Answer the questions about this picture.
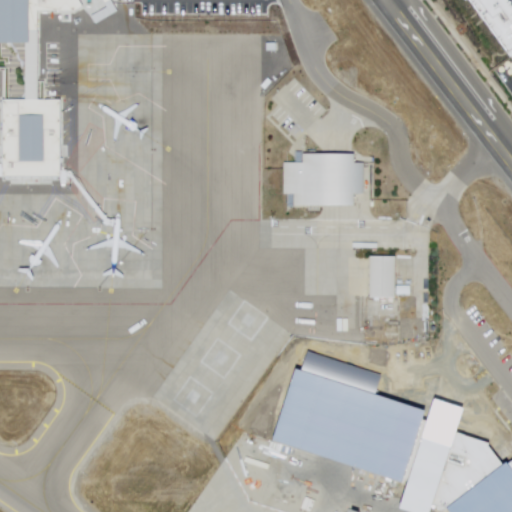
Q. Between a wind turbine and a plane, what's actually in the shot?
plane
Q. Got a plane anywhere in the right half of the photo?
No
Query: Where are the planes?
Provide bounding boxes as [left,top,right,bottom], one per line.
[18,222,61,280]
[99,104,150,141]
[86,214,143,277]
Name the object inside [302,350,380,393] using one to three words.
hangar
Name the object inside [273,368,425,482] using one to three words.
hangar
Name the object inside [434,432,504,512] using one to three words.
building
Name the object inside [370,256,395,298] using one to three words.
building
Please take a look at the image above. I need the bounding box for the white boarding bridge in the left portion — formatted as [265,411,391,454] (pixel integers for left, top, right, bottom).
[61,170,114,224]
